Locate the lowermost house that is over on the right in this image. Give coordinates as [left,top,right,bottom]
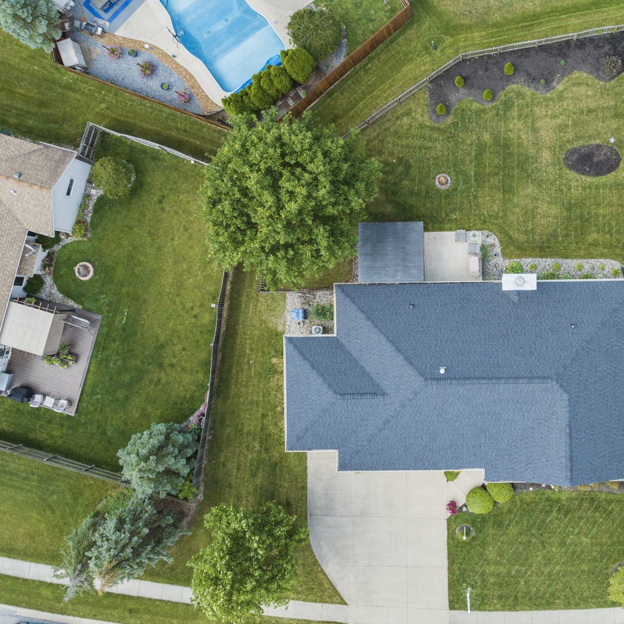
[283,274,624,495]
